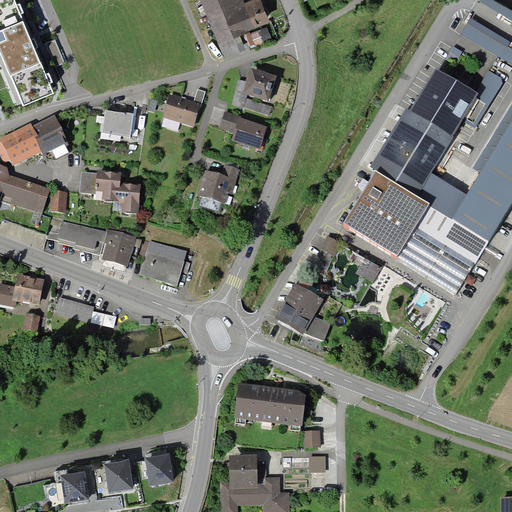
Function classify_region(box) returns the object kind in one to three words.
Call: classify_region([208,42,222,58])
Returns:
vehicle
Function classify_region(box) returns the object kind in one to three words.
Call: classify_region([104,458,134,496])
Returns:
house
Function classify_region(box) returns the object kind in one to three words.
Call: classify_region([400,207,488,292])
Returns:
building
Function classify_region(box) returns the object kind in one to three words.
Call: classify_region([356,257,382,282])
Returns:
building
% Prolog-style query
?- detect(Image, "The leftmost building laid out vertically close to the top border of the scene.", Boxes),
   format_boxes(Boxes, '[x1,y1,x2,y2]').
[0,0,54,107]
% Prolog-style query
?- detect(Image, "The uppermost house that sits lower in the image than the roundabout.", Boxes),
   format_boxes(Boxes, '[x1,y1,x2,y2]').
[234,382,306,432]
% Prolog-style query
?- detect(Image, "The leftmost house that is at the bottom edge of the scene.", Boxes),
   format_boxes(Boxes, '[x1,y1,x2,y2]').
[56,471,90,504]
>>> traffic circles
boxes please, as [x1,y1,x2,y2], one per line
[186,296,256,383]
